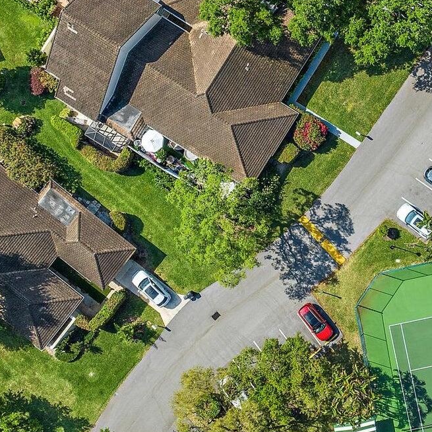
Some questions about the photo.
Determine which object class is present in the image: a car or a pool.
car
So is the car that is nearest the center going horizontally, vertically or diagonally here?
diagonally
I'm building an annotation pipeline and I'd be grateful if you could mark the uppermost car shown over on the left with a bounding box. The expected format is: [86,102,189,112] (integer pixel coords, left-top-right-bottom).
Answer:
[131,270,173,310]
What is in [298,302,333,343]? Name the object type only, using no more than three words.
car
